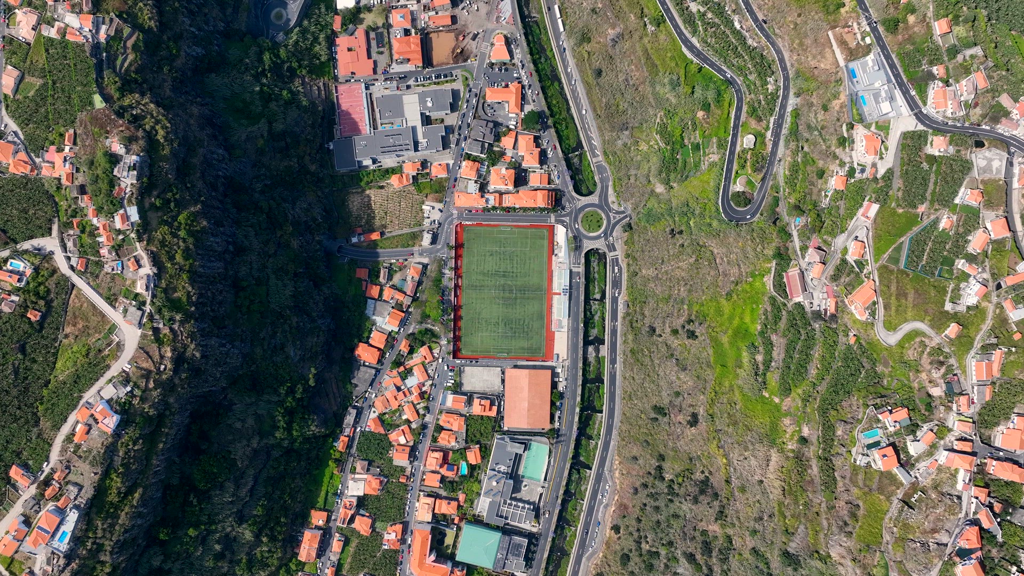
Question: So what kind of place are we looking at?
residential area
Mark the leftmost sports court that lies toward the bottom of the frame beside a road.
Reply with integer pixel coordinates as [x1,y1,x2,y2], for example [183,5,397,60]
[460,367,501,391]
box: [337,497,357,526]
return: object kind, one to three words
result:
house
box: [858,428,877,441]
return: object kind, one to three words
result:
swimming pool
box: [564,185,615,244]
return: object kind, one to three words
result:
roundabout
